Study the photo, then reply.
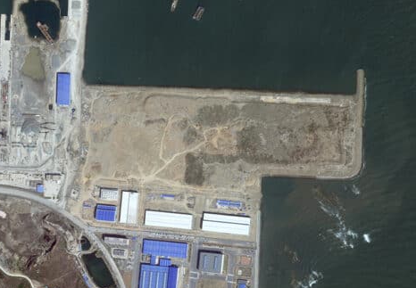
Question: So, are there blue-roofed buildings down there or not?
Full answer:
Yes, a blue-roofed building appears in the view.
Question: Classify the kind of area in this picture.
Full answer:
This image shows a port.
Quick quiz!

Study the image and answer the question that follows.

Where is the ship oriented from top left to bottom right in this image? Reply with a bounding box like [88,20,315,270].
[37,22,54,42]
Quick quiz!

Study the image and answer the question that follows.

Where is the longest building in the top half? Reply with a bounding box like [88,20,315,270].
[57,73,71,106]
